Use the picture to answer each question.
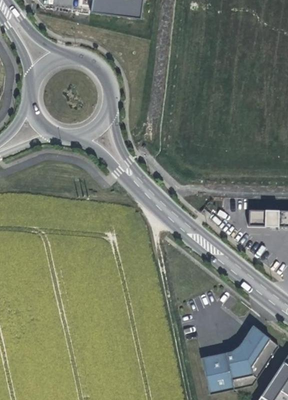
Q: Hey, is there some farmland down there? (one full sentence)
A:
Yes, there is farmland in the image.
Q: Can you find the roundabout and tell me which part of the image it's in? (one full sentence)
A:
The roundabout is located in the top left region of the scene.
